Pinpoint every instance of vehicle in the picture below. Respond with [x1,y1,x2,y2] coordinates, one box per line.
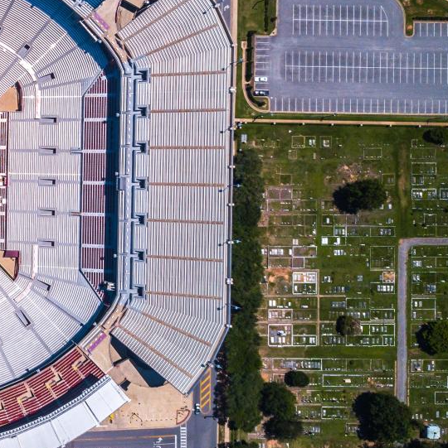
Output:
[253,89,270,96]
[194,402,200,415]
[254,76,267,82]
